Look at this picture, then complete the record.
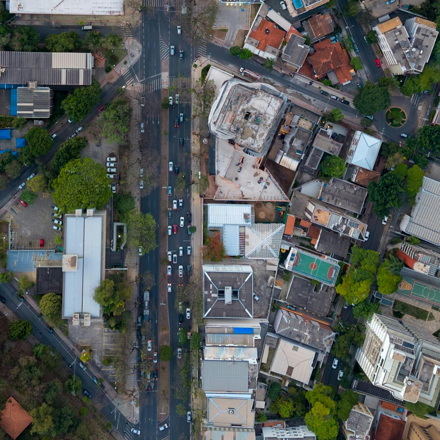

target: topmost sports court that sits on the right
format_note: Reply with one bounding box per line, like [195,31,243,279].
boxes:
[292,252,337,284]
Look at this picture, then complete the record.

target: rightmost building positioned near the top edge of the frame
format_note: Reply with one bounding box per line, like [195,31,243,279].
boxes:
[367,16,438,73]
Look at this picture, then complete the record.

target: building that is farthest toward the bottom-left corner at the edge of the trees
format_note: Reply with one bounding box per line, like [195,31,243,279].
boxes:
[0,394,35,440]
